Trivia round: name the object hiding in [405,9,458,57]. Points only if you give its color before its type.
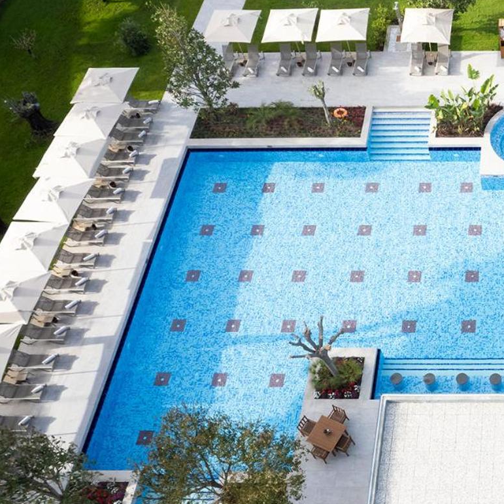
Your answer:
white umbrella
